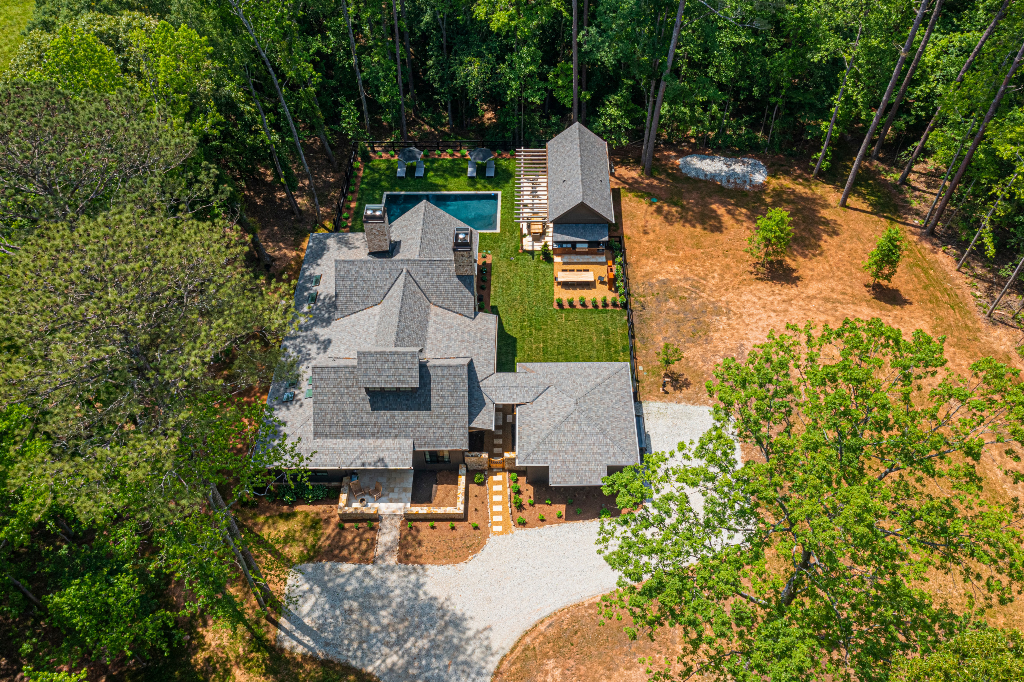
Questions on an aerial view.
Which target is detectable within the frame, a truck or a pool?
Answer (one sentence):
This aerial view contains a pool.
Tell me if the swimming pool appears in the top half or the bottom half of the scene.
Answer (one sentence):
The top half of the photo is where the swimming pool is.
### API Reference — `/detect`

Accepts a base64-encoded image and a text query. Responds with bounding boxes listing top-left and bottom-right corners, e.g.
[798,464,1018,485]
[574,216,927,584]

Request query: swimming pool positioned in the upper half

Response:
[382,191,501,232]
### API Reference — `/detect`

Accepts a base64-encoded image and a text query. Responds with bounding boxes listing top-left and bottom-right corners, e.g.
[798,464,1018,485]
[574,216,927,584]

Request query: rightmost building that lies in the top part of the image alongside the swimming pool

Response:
[545,121,616,258]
